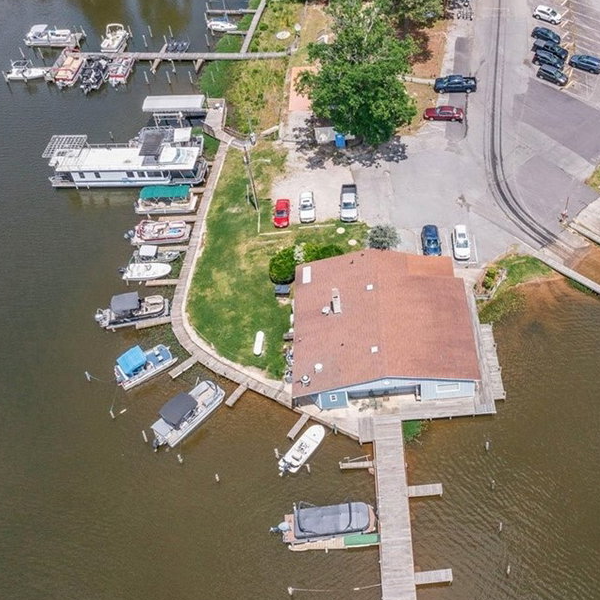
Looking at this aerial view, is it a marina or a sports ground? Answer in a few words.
marina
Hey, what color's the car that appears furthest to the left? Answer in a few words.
red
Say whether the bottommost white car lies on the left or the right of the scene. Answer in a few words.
right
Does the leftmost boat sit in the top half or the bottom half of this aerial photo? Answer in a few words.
top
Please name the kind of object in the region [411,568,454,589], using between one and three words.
pier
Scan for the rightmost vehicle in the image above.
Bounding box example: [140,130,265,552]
[567,52,600,74]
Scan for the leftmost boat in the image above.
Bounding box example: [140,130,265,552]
[3,60,49,82]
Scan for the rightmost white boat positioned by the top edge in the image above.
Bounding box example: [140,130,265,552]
[205,0,238,32]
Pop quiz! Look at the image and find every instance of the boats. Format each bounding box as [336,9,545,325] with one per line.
[94,292,170,334]
[276,501,377,549]
[106,56,139,91]
[51,51,86,90]
[153,386,228,450]
[130,242,182,266]
[99,25,125,53]
[117,264,173,285]
[81,56,117,96]
[132,185,198,218]
[172,42,189,54]
[3,60,49,82]
[116,343,181,393]
[276,425,323,481]
[163,42,180,54]
[205,0,238,32]
[23,27,79,50]
[40,132,207,189]
[127,222,192,249]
